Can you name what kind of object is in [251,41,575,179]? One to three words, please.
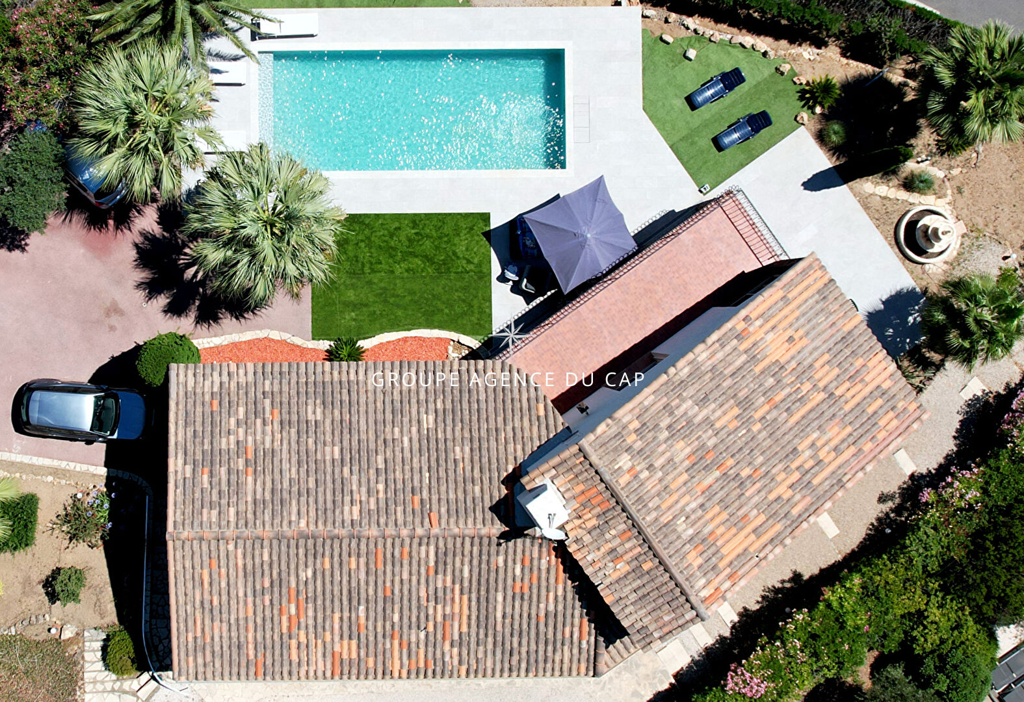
swimming pool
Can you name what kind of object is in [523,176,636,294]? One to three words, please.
umbrella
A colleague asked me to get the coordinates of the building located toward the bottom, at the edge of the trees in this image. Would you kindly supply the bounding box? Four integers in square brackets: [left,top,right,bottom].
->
[163,252,932,685]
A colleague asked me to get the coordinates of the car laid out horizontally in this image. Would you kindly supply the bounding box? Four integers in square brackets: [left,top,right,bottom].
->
[14,378,155,447]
